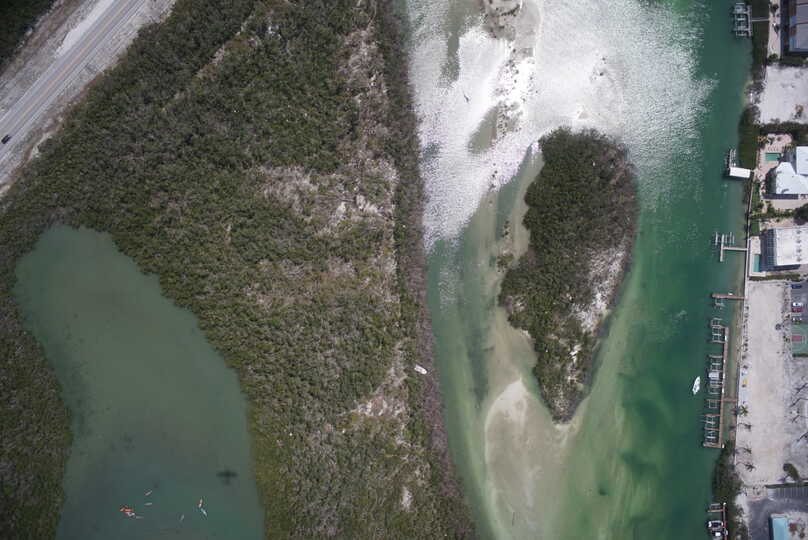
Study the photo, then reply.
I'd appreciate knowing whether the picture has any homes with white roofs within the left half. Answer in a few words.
No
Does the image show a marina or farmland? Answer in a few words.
marina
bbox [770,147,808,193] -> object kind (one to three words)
house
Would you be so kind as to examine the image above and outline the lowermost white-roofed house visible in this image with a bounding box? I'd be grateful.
[776,227,808,264]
